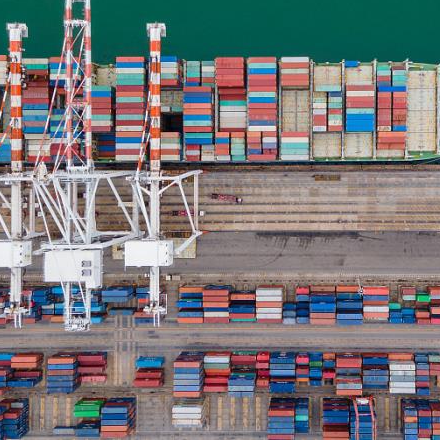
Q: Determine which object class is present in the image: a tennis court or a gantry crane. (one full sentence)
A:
This aerial view contains a gantry crane.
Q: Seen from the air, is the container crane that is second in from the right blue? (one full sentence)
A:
No, the container crane that is second in from the right is white.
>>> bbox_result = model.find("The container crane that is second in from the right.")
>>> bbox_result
[126,22,212,321]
